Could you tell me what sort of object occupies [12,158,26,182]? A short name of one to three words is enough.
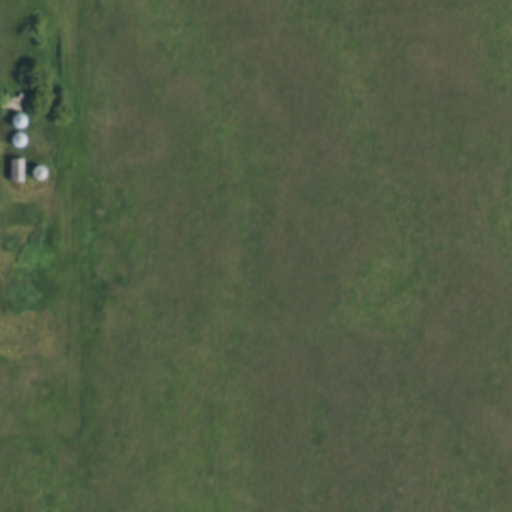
shed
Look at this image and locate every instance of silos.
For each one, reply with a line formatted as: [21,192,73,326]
[12,132,28,148]
[34,165,49,181]
[12,113,29,130]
